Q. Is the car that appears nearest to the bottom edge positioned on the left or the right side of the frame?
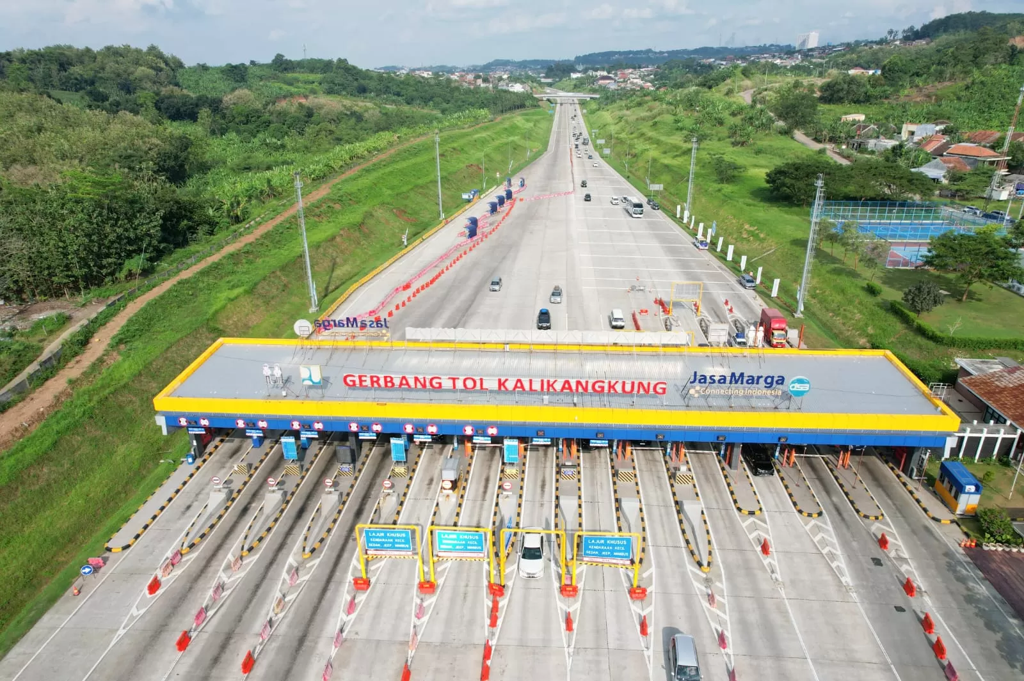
right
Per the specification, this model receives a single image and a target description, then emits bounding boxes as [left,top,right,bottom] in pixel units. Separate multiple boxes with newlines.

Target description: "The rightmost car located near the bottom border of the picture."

[664,622,707,681]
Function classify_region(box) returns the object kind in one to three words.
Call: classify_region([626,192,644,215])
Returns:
vehicle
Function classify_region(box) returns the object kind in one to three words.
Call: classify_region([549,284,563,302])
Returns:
car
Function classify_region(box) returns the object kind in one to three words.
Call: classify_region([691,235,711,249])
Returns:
vehicle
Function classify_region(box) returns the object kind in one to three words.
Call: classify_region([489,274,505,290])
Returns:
car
